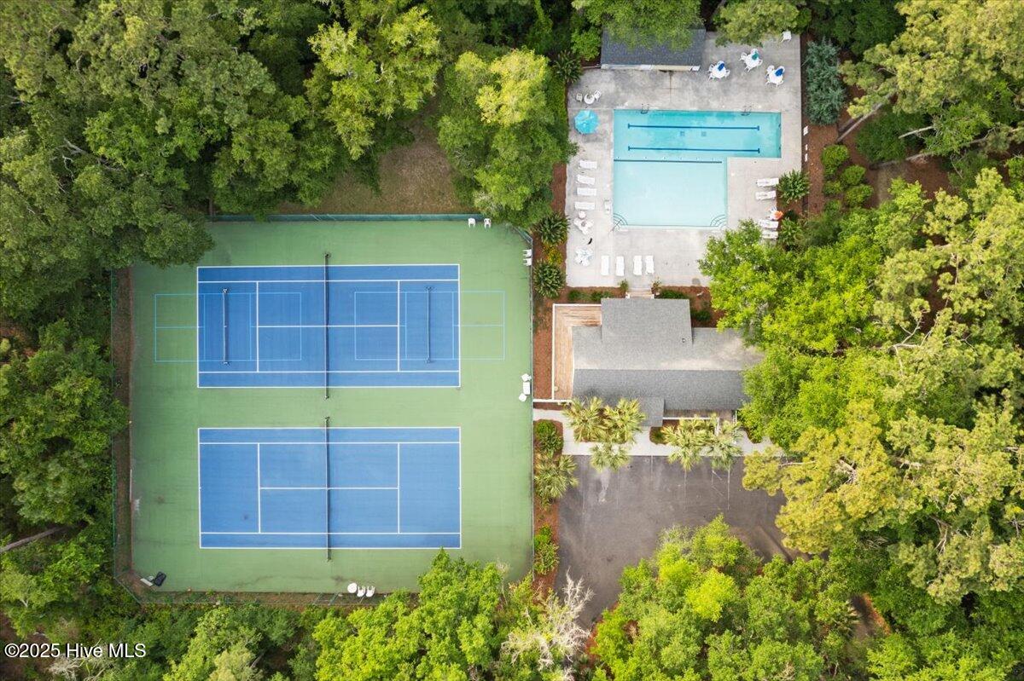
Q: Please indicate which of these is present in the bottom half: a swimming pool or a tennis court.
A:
tennis court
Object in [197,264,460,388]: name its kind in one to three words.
tennis court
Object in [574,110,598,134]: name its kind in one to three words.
umbrella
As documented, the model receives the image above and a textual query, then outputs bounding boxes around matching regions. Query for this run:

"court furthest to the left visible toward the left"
[154,292,302,362]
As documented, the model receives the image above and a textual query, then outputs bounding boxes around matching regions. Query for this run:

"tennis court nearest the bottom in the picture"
[198,428,461,549]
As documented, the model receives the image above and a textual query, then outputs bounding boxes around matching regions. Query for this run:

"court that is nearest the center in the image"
[355,290,505,360]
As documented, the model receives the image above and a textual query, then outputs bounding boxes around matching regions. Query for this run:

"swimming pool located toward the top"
[610,101,784,231]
